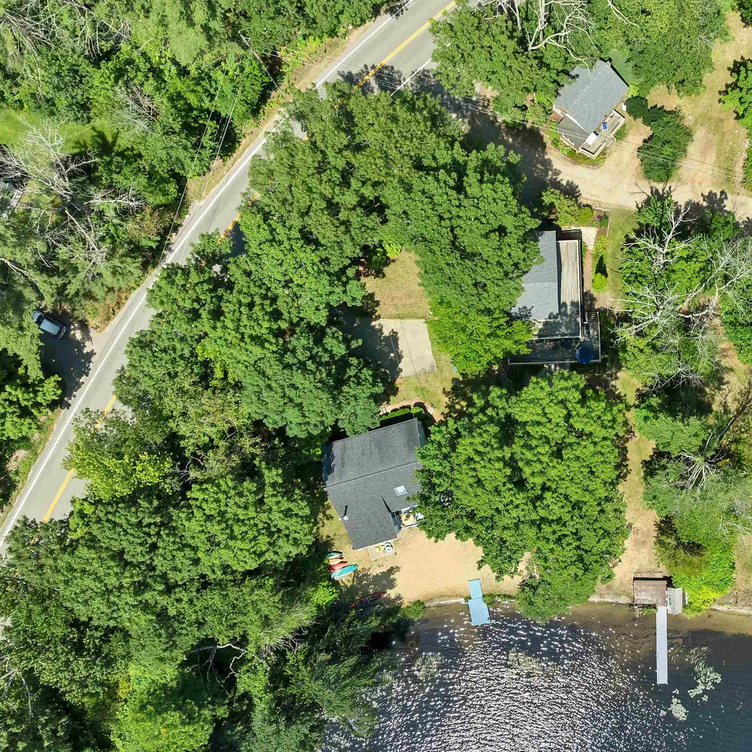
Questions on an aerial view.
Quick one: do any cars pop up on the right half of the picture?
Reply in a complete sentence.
No, there's no car to be seen on the right half of the picture.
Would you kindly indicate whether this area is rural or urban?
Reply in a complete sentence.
From above, the setting appears rural.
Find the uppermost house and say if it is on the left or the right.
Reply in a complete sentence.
You can find the uppermost house on the right side of the picture.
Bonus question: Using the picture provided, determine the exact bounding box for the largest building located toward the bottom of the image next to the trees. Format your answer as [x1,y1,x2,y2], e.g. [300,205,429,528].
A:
[323,416,434,551]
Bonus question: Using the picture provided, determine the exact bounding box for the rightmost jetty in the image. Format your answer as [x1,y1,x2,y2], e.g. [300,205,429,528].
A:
[655,607,668,684]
